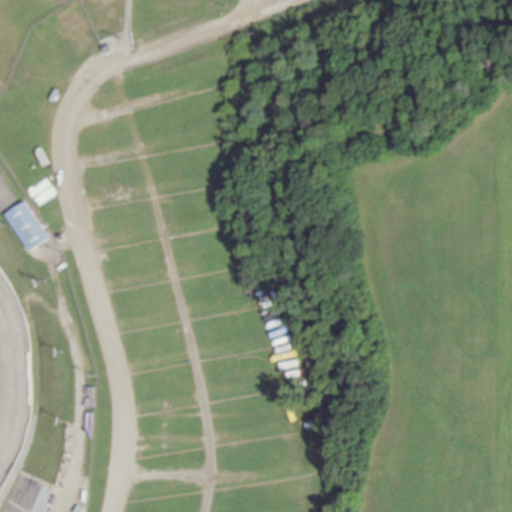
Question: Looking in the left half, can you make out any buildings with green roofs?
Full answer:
No, no building with a green roof can be made out in the left half.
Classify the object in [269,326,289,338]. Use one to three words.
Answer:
vehicle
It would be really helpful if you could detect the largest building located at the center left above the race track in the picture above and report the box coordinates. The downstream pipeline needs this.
[4,200,49,251]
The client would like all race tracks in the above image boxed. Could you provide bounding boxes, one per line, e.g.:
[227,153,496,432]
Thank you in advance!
[0,263,32,492]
